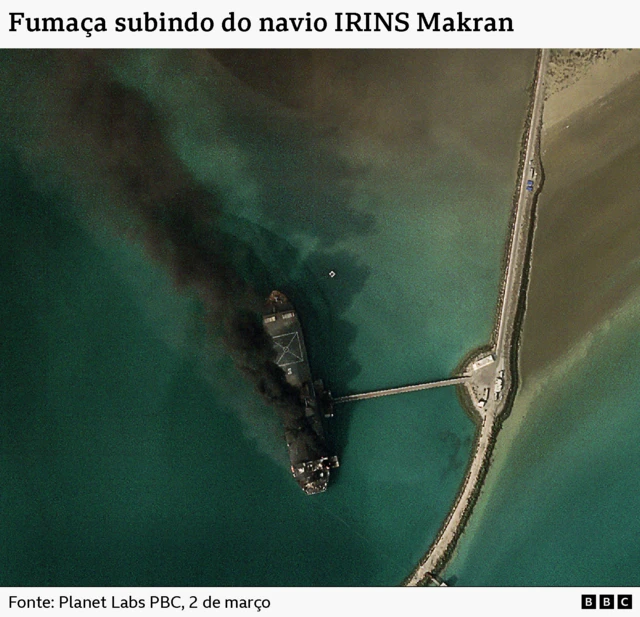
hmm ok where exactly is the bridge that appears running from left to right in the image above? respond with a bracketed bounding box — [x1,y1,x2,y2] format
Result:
[332,375,471,403]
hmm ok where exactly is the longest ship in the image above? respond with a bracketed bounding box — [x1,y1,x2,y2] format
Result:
[264,291,339,494]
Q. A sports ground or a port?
port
